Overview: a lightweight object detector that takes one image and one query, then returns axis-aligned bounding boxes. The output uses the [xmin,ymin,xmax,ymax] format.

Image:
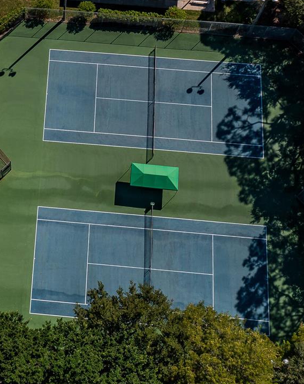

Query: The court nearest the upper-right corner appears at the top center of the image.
[43,49,263,158]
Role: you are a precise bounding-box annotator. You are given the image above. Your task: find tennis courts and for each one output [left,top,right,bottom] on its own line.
[43,49,263,158]
[31,206,269,329]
